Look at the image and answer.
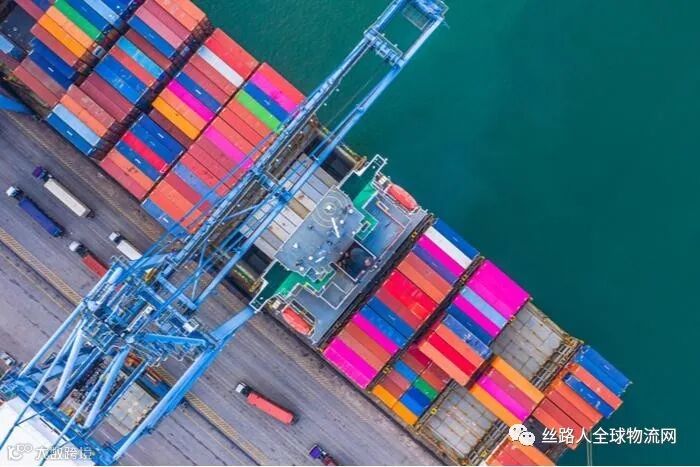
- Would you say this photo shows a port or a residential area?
port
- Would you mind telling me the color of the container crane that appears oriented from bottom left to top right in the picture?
blue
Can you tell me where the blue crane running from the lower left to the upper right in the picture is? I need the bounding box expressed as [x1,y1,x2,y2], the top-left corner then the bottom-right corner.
[0,0,458,467]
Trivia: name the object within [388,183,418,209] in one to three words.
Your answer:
boat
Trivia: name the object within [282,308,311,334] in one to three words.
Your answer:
boat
